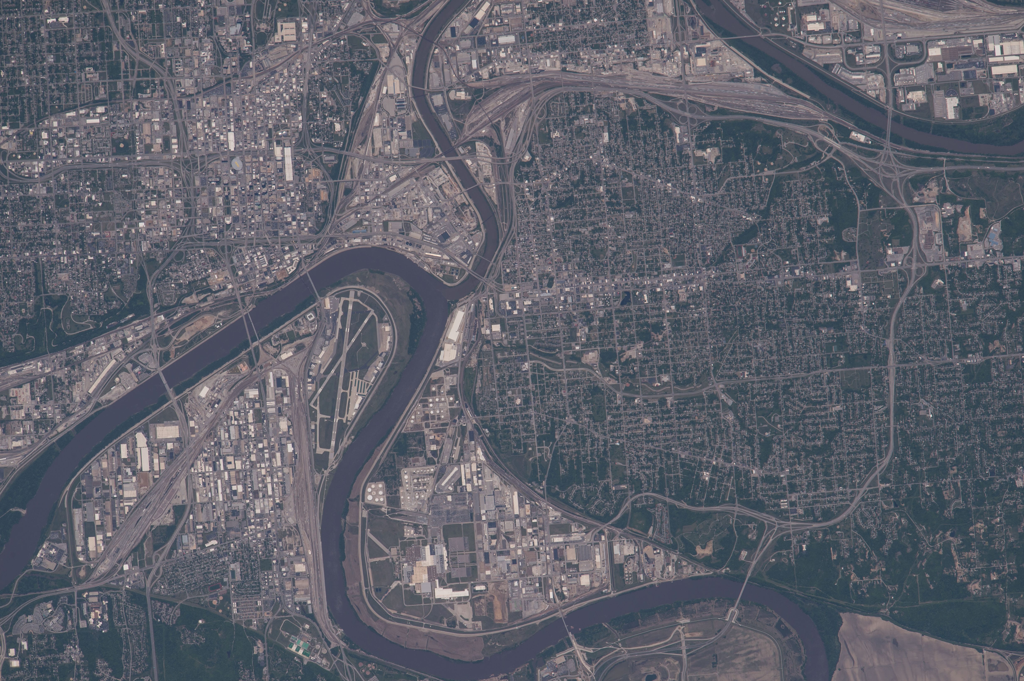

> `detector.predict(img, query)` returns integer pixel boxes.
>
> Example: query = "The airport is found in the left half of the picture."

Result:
[310,287,396,459]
